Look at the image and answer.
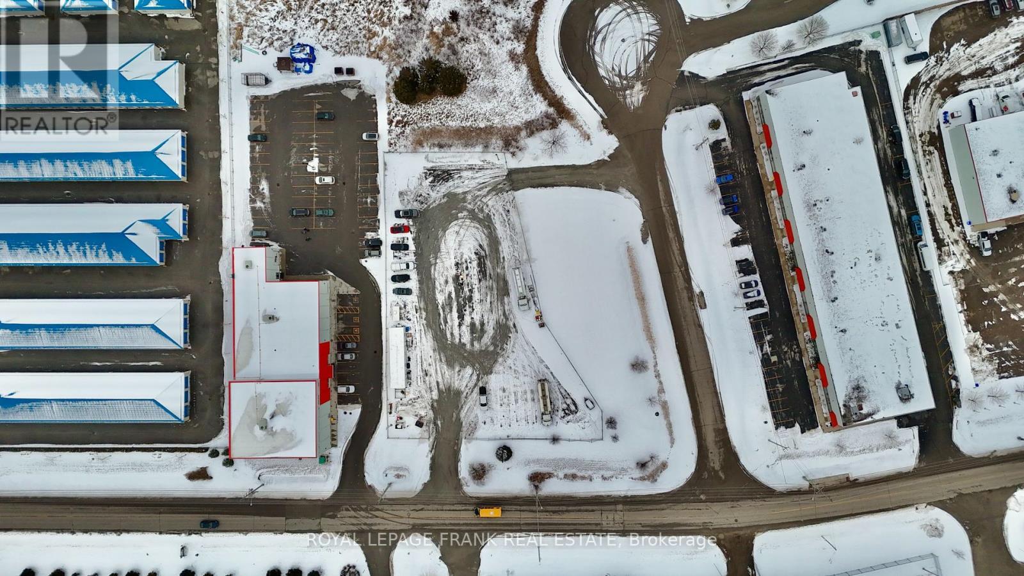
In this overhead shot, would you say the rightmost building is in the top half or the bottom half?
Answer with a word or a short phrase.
top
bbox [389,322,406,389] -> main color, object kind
white trailer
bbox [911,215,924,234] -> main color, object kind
blue vehicle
